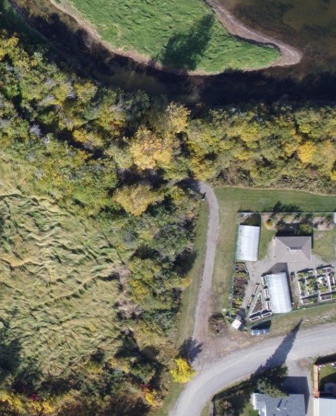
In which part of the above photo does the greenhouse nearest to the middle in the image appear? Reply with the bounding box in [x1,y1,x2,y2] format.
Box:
[233,225,259,262]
